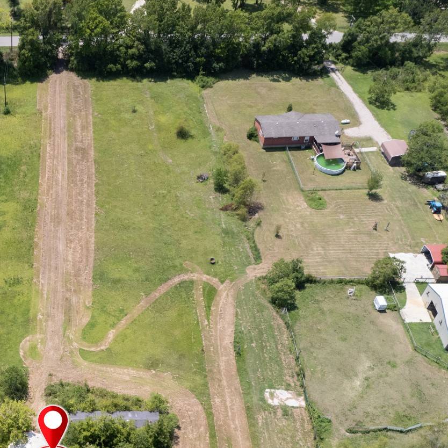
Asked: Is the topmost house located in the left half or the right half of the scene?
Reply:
right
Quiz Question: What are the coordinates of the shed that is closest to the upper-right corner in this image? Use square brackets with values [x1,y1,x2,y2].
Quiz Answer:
[377,136,411,167]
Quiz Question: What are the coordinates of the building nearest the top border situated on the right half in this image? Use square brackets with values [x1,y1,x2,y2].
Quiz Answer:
[257,104,343,150]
